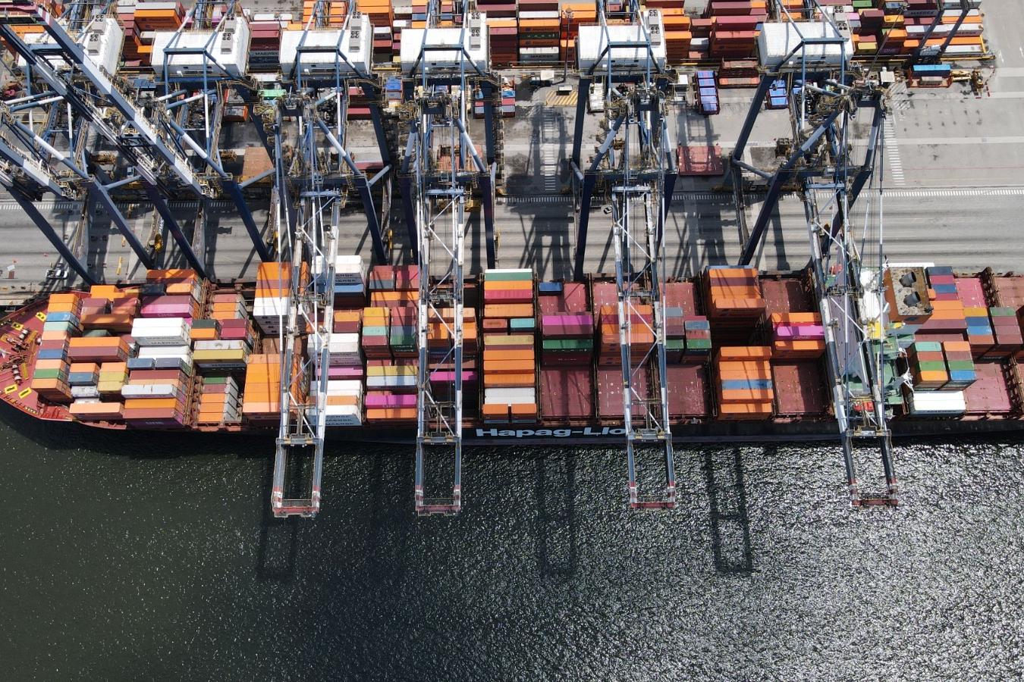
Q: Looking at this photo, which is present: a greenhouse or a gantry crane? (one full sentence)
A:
Visible in the photo is a gantry crane.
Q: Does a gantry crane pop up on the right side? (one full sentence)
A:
Yes, a gantry crane appears on the right side.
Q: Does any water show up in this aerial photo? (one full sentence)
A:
Yes, there is water in the image.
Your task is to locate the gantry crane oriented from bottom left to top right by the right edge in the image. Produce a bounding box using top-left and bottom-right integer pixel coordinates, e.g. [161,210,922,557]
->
[909,0,985,66]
